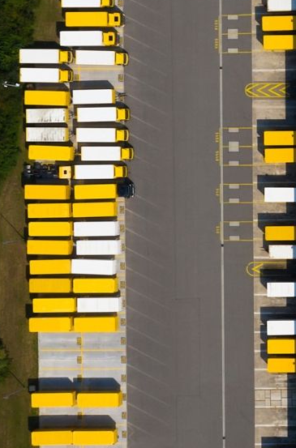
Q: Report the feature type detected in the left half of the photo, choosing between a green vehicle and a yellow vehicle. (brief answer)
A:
yellow vehicle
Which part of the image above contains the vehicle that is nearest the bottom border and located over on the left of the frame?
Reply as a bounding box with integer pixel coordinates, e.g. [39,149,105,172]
[74,183,134,200]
